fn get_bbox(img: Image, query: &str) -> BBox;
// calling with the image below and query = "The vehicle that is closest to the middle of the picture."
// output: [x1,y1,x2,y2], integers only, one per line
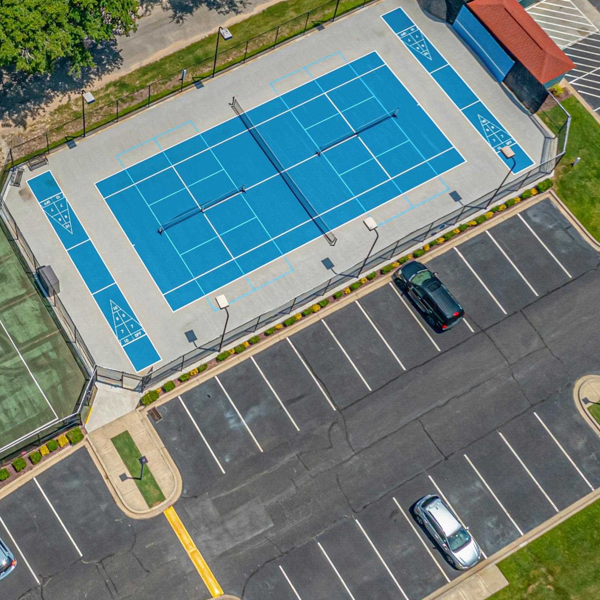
[394,263,463,334]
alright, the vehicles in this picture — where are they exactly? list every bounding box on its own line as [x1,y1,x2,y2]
[0,541,16,584]
[414,493,479,572]
[394,263,463,334]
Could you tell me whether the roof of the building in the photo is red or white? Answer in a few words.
red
